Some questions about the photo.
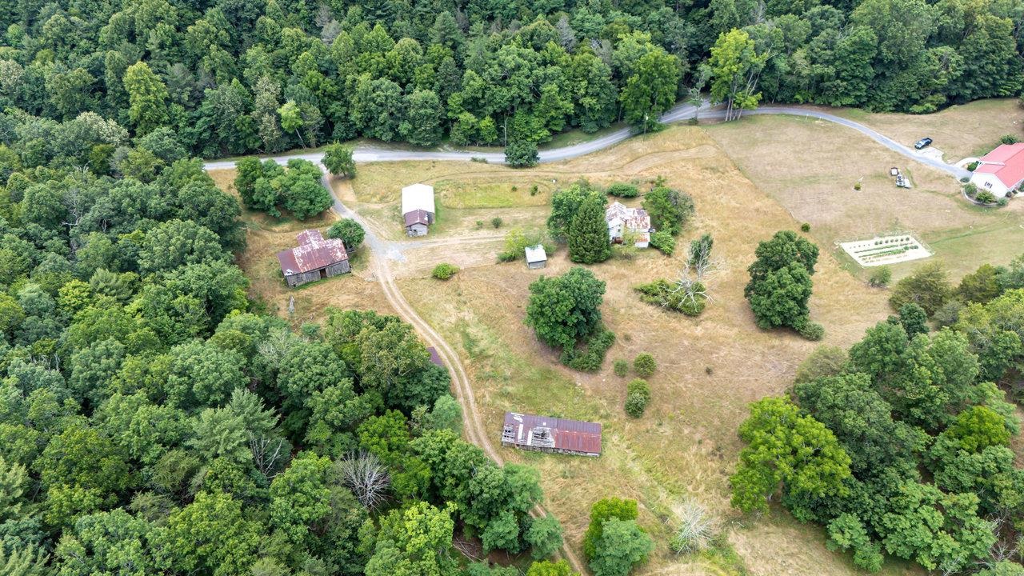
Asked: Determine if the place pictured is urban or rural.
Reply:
rural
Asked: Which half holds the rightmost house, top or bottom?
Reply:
top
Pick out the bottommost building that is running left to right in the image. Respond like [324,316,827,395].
[502,411,604,461]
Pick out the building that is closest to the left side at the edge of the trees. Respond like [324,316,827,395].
[278,235,359,286]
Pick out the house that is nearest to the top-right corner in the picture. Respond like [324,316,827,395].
[969,148,1024,196]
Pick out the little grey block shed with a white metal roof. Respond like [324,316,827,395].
[523,244,547,269]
